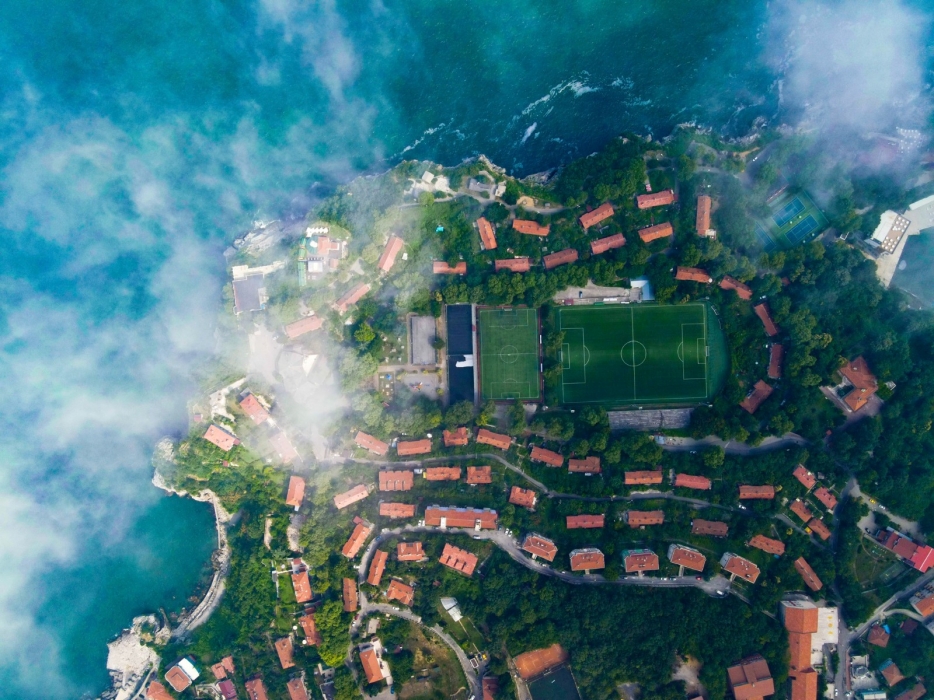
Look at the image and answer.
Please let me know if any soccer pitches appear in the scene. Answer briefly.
Yes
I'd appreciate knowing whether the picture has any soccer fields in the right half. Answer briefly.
Yes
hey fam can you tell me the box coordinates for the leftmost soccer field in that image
[475,303,545,405]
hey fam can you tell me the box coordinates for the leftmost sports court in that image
[407,314,436,366]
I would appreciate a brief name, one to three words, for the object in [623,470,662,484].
house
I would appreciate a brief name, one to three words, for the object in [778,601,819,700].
building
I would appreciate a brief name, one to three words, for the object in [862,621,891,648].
house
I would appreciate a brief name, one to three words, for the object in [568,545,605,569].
building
